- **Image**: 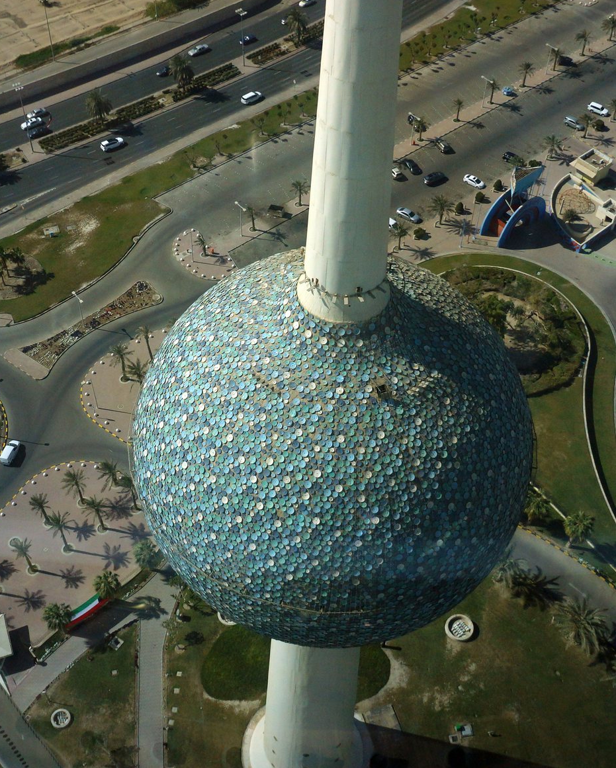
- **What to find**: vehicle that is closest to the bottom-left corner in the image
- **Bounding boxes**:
[0,437,20,465]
